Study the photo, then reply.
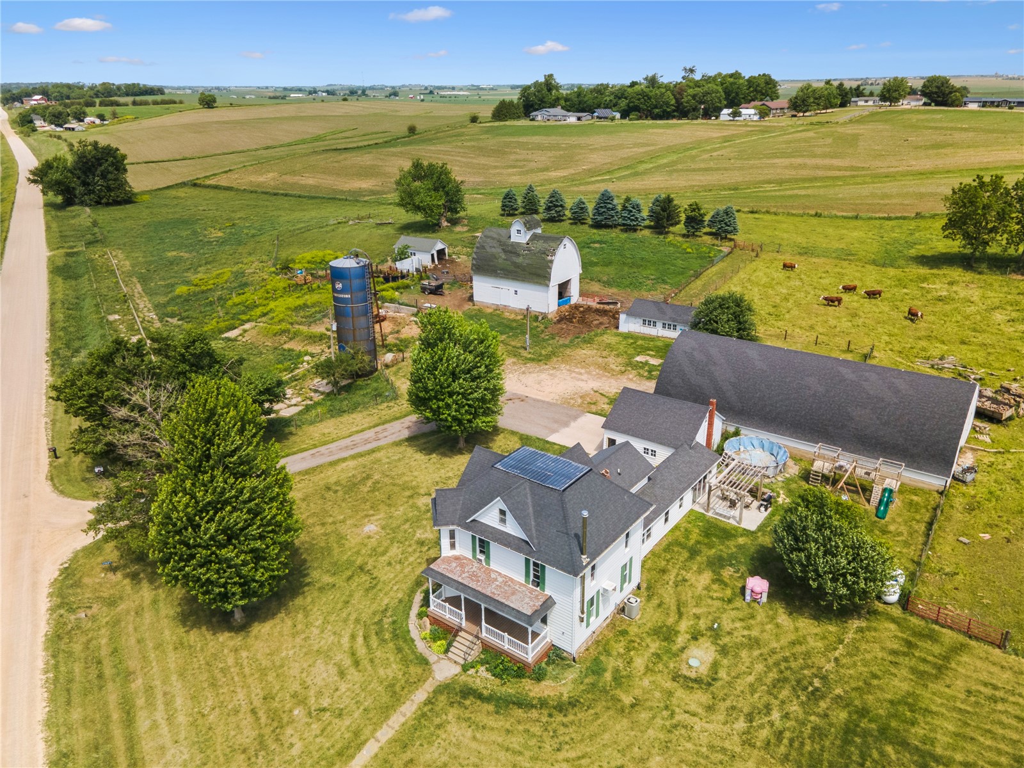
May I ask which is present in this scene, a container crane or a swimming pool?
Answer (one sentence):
This aerial view contains a swimming pool.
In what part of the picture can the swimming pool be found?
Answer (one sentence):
The swimming pool is located in the right region of the scene.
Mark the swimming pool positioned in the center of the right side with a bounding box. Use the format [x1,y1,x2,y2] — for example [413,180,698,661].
[719,437,791,482]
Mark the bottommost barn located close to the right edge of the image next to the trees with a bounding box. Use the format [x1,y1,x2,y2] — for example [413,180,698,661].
[654,323,985,492]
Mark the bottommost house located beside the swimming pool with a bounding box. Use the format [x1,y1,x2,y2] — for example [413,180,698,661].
[420,437,720,671]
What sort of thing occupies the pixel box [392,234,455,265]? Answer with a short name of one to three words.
shed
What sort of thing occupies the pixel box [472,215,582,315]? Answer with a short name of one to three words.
barn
